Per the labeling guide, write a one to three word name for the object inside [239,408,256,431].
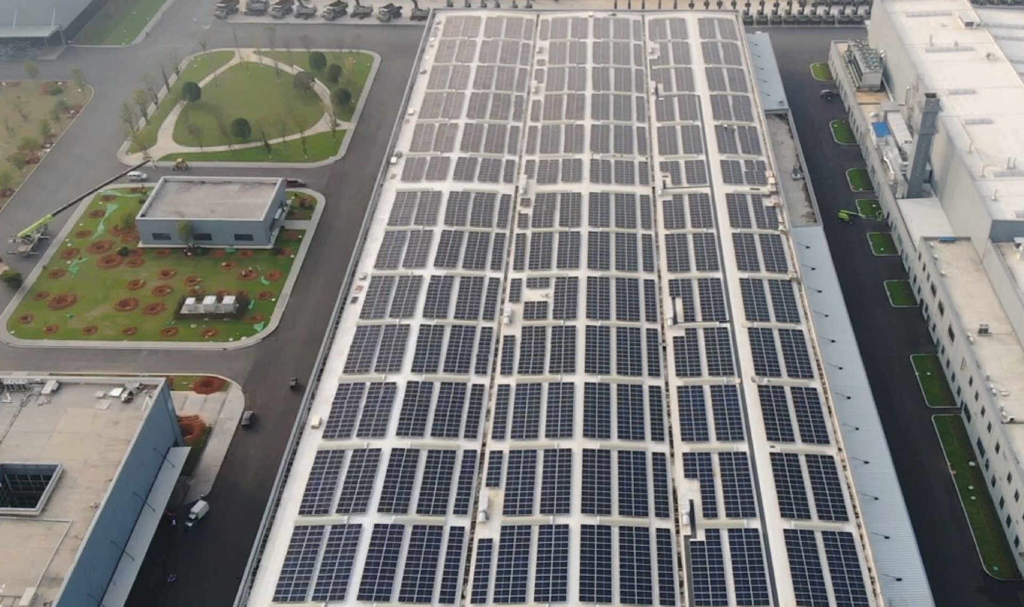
vehicle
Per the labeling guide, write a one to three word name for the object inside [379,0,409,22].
truck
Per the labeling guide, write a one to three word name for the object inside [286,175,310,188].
vehicle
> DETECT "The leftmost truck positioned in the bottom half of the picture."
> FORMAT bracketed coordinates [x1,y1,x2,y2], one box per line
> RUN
[184,499,210,530]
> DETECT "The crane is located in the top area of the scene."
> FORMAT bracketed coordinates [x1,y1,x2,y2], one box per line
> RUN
[7,157,159,256]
